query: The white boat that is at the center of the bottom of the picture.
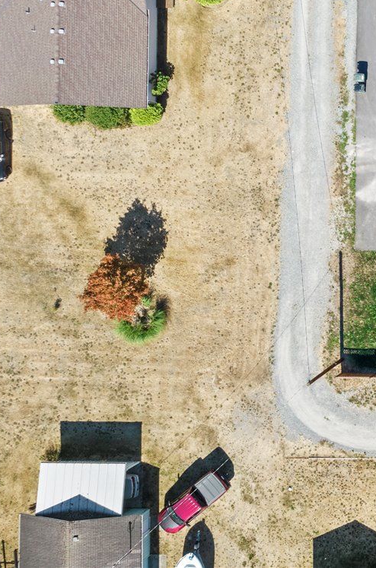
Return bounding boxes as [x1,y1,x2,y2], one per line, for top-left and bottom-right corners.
[175,547,201,568]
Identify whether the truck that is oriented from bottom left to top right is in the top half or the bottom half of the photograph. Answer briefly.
bottom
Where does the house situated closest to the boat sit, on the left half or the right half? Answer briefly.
left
